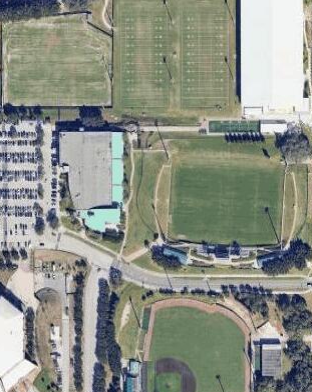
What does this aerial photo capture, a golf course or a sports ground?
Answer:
sports ground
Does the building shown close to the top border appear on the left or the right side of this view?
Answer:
right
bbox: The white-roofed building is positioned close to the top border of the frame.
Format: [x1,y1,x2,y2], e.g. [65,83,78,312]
[240,0,302,112]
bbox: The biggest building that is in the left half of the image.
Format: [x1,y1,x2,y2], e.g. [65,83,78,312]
[59,132,123,233]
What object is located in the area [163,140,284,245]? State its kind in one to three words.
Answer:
soccer field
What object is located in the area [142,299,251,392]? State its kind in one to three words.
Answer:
baseball field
